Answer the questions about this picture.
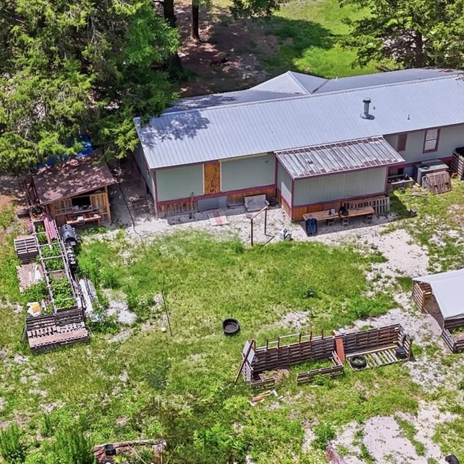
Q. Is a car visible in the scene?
No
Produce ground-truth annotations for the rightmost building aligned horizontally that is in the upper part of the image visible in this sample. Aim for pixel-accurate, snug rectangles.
[117,65,464,220]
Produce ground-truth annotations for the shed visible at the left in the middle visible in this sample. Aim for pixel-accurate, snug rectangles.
[44,154,113,225]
